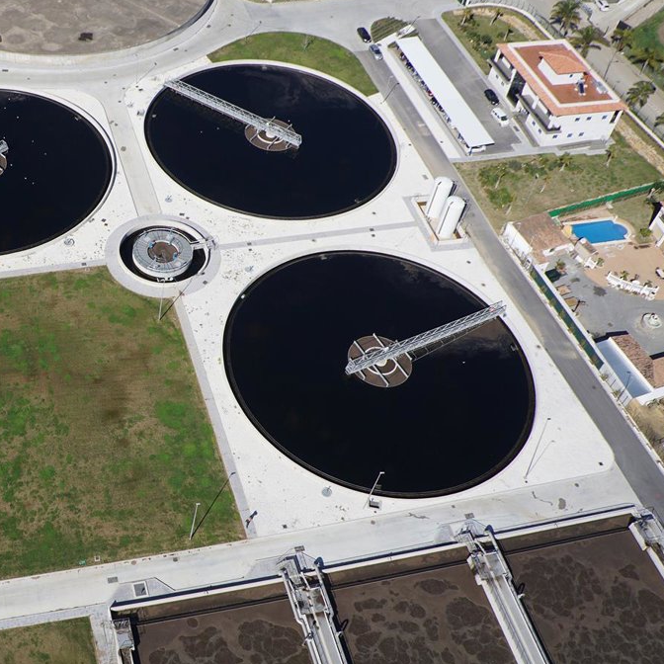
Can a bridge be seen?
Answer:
Yes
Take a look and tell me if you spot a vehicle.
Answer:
Yes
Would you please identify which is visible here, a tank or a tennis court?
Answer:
tank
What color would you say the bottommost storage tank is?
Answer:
black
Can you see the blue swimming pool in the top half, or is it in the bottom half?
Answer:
top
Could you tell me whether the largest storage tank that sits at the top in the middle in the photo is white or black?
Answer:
black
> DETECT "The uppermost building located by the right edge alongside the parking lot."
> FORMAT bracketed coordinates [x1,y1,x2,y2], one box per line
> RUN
[486,37,633,146]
